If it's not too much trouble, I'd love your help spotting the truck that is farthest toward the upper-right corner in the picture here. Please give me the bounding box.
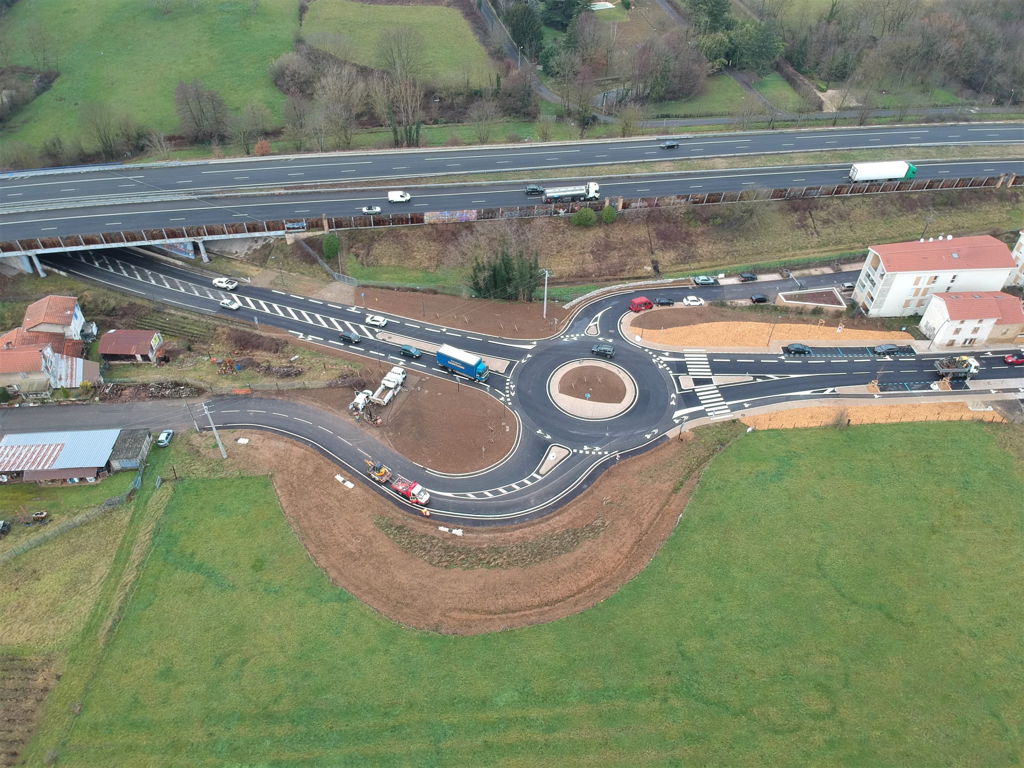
[852,160,919,182]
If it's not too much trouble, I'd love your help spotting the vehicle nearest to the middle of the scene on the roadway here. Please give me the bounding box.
[439,344,491,382]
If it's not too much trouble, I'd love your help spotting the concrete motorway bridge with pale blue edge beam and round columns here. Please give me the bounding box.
[0,172,299,281]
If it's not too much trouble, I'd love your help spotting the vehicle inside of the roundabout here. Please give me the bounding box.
[591,343,615,357]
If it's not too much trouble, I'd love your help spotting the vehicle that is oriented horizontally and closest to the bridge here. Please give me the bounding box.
[212,276,236,289]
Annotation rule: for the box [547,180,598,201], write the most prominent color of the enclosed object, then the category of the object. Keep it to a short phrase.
white truck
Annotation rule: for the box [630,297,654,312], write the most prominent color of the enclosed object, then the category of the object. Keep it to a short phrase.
red vehicle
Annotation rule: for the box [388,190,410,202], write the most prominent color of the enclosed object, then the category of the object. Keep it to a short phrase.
white vehicle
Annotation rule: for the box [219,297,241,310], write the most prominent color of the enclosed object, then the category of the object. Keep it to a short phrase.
white vehicle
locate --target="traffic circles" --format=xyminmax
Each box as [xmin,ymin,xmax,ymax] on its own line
[505,334,685,454]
